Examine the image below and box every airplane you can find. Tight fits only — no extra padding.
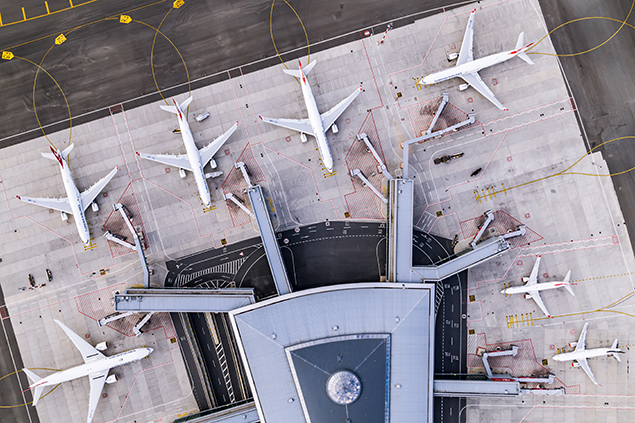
[16,320,154,423]
[259,58,363,171]
[552,323,628,389]
[420,7,537,113]
[12,141,118,244]
[133,95,238,208]
[500,256,577,319]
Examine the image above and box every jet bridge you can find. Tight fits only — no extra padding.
[97,311,140,326]
[439,113,475,136]
[224,192,257,220]
[518,381,567,395]
[133,311,159,336]
[425,93,450,134]
[113,202,144,242]
[479,344,518,357]
[495,226,525,239]
[235,161,255,190]
[104,229,146,251]
[468,210,494,246]
[357,133,386,171]
[350,168,388,205]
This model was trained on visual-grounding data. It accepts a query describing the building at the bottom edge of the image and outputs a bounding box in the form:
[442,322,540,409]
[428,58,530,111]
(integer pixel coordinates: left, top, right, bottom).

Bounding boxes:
[229,283,435,423]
